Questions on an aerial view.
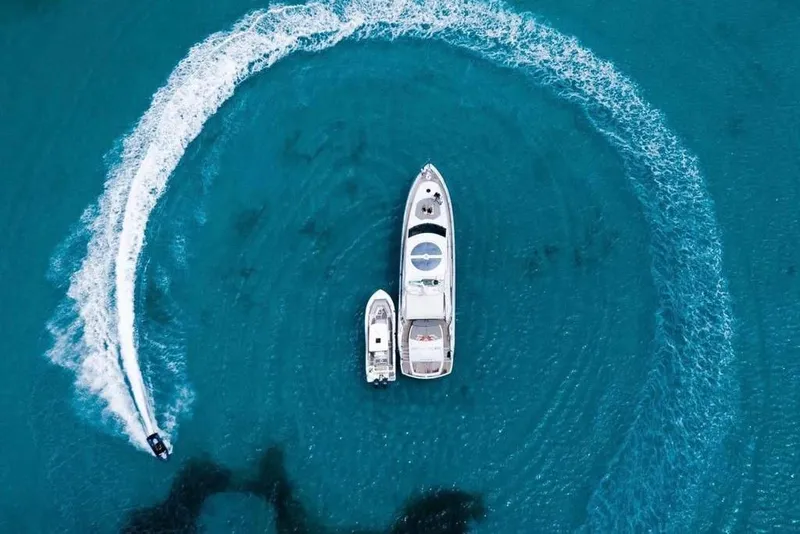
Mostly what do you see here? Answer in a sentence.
The largest share of the image is taken up by water.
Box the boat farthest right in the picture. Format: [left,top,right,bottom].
[399,162,455,379]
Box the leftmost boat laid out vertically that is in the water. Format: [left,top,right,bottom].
[365,289,396,385]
